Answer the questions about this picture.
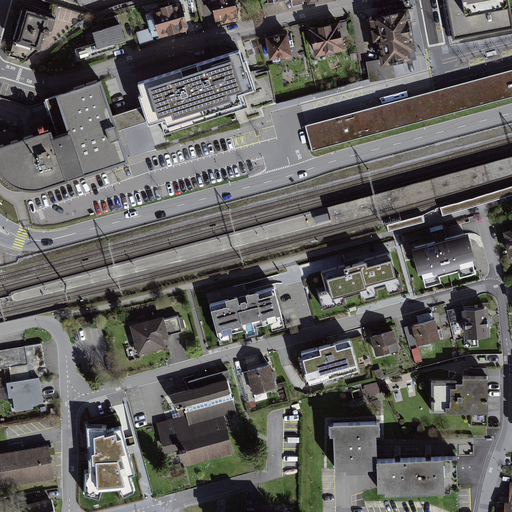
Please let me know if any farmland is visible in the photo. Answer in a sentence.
No, there's no farmland in this view.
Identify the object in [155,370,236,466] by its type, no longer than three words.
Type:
building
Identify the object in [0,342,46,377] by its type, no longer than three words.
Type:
building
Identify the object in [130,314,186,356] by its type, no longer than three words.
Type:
house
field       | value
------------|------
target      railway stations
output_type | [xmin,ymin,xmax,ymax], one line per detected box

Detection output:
[10,156,512,302]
